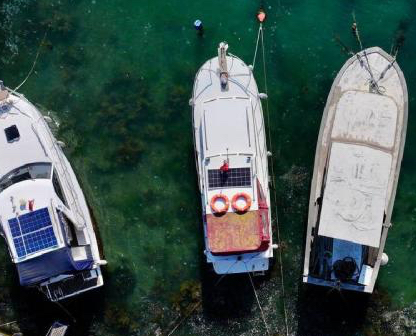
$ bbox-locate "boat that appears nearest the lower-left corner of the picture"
[0,81,106,304]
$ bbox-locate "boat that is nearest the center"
[194,43,274,276]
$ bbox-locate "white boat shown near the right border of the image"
[303,45,407,295]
